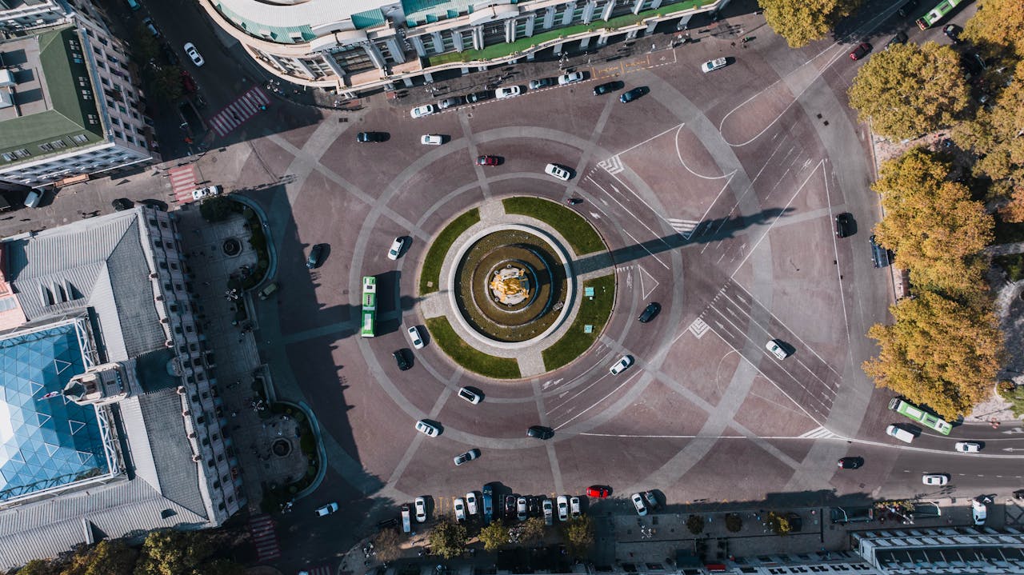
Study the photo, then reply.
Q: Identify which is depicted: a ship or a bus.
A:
bus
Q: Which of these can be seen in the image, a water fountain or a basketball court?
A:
water fountain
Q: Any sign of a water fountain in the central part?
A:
Yes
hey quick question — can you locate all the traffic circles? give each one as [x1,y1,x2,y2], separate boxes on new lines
[419,196,617,379]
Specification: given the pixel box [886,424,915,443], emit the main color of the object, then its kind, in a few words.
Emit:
white vehicle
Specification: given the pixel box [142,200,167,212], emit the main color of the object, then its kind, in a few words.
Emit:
black vehicle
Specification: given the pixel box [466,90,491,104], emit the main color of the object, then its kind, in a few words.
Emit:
black car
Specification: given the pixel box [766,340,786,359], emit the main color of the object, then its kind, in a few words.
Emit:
white car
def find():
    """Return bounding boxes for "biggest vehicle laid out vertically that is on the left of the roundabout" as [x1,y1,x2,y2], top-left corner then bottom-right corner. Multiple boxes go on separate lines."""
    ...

[360,276,378,339]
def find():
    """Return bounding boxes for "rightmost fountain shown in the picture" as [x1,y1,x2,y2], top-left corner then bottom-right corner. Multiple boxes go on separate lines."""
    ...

[448,222,576,351]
